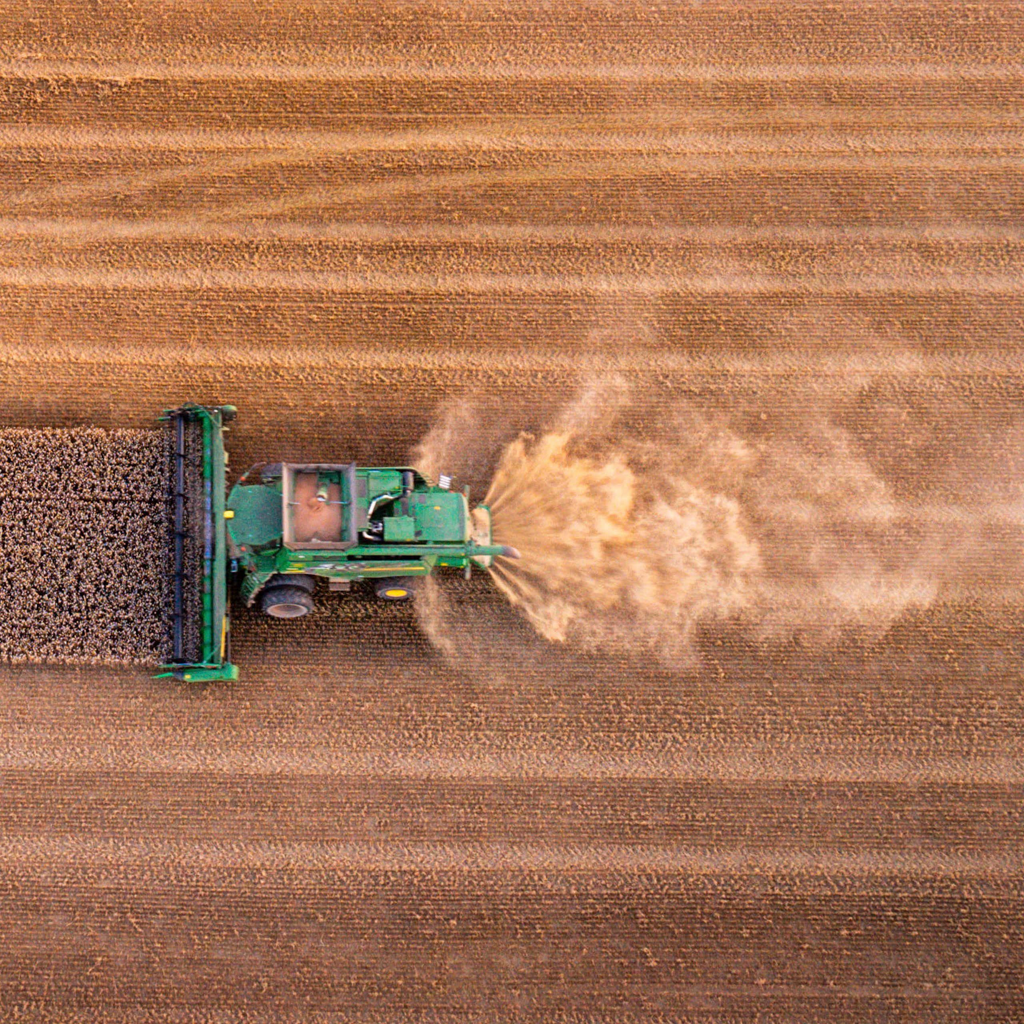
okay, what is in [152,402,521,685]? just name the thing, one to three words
work vehicle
